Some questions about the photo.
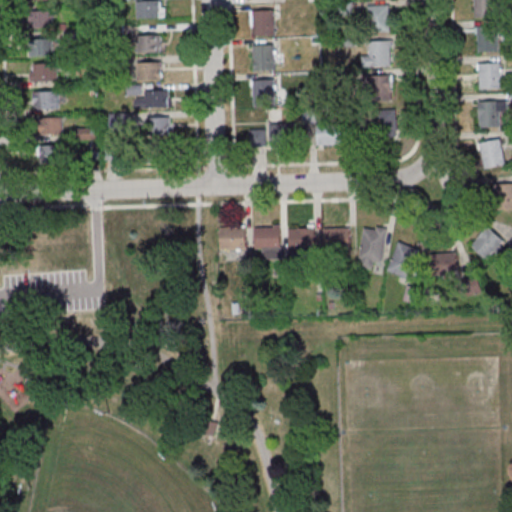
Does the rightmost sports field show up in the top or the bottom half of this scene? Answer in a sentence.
The bottom half of the photo is where the rightmost sports field is.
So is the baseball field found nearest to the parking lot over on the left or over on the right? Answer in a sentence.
You can find the baseball field found nearest to the parking lot on the left side of the picture.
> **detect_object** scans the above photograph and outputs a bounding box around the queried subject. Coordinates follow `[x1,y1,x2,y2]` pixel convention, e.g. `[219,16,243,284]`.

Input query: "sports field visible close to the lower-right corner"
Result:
[344,356,504,512]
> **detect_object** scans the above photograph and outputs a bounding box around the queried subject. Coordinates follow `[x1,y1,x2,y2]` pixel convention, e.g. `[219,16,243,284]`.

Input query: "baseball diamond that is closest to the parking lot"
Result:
[28,406,216,512]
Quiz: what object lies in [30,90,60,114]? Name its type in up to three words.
house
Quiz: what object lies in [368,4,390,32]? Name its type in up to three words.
house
